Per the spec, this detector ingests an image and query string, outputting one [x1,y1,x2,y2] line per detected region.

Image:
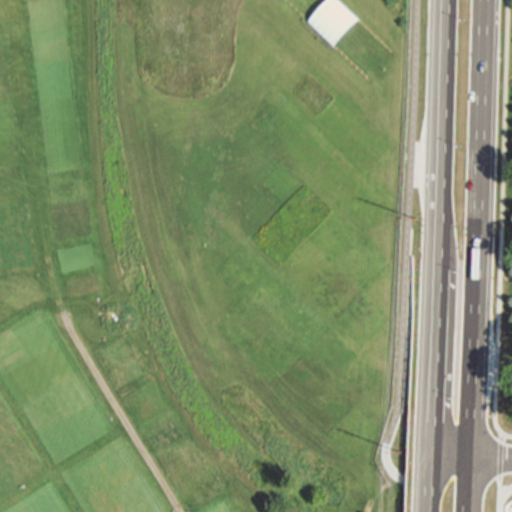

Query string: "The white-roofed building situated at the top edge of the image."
[308,0,359,47]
